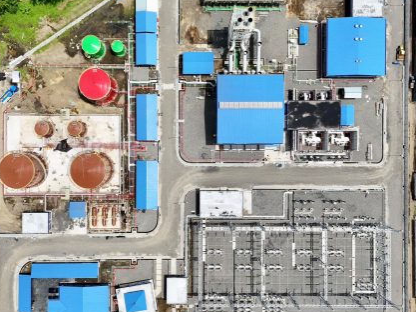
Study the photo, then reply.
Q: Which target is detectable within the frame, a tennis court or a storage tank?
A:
storage tank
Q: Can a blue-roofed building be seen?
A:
Yes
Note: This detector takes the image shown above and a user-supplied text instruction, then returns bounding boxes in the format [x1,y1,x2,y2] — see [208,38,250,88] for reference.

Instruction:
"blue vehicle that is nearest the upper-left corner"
[0,83,17,102]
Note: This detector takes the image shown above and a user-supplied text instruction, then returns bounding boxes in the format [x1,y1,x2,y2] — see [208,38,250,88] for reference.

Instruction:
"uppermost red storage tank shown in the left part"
[78,68,118,105]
